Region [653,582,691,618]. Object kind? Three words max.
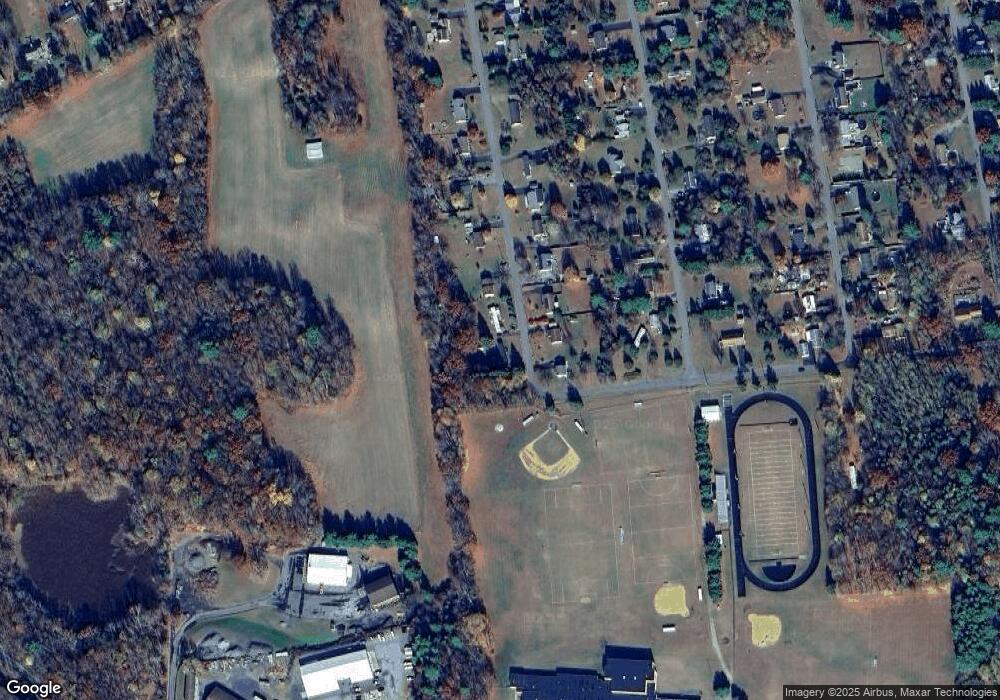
baseball field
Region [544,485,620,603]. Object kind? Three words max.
soccer field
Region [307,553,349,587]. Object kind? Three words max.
building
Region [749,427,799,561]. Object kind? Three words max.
sports field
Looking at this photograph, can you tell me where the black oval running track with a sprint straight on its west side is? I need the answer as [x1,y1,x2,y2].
[726,391,820,597]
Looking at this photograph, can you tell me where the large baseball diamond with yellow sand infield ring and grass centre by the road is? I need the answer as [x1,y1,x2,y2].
[516,422,584,484]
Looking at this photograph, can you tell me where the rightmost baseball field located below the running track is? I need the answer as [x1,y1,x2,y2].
[745,612,784,649]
